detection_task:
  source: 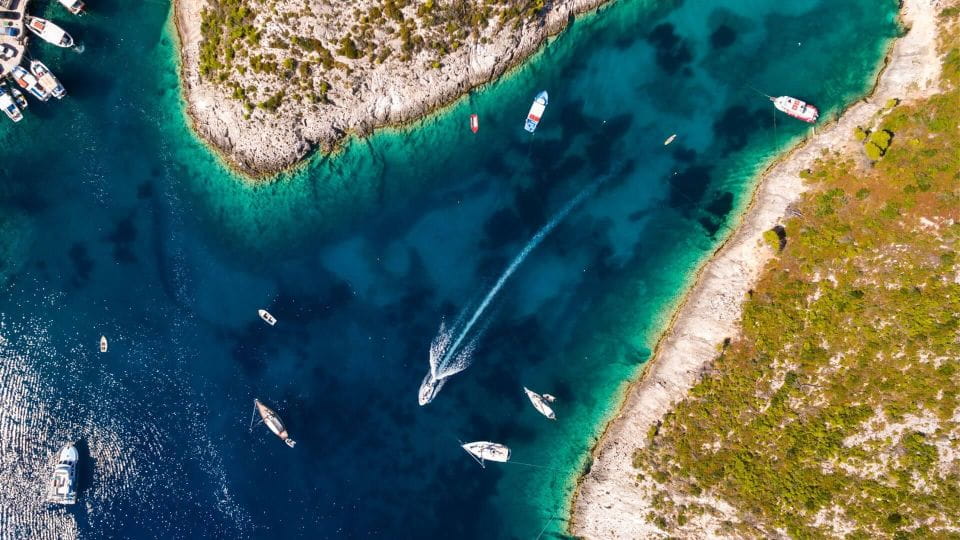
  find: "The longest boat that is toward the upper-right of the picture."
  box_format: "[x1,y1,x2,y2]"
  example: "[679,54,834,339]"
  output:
[754,89,821,127]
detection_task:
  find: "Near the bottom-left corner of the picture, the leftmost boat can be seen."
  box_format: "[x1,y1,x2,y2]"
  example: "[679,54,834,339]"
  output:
[51,430,81,504]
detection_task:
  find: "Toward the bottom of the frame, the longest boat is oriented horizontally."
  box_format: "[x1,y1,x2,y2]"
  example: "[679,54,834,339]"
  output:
[459,442,577,474]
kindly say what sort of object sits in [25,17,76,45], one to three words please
boat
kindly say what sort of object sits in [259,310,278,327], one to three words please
boat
